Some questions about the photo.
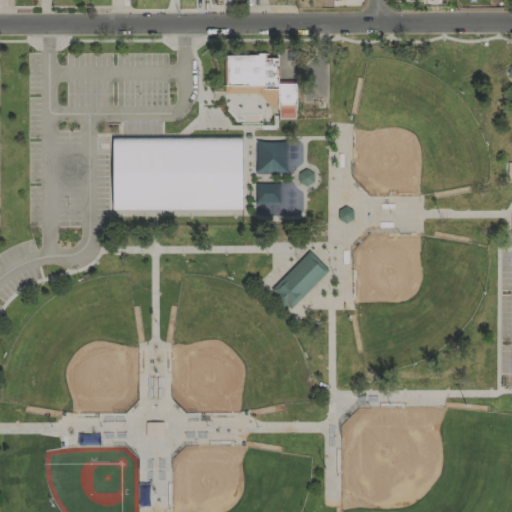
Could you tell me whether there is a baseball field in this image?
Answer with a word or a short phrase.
Yes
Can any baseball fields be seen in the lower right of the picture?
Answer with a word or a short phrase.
Yes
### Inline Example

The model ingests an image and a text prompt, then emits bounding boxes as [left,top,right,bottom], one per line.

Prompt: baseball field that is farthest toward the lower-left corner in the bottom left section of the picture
[46,447,139,512]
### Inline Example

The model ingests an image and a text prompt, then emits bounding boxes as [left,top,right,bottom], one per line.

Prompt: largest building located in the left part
[113,138,243,211]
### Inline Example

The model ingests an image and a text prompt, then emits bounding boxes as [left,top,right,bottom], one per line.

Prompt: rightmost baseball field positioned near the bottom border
[342,402,512,512]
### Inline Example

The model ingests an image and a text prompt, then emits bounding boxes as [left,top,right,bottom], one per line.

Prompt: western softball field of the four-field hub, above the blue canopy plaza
[0,273,144,417]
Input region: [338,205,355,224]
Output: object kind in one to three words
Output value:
gazebo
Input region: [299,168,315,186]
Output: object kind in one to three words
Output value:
gazebo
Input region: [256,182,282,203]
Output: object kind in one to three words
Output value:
building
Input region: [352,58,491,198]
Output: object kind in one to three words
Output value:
baseball field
